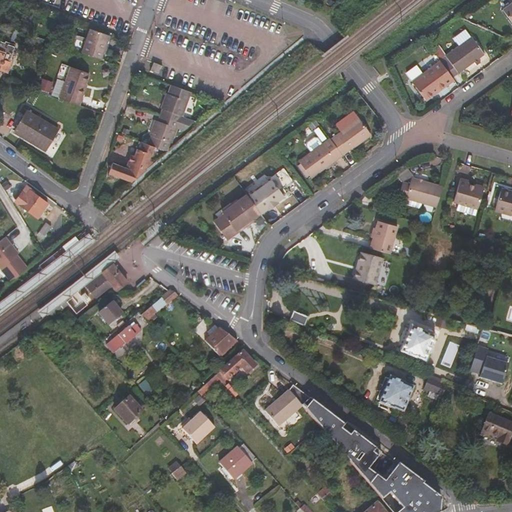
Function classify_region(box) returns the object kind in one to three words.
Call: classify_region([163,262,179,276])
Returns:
vehicle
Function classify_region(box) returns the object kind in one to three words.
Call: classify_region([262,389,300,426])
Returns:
house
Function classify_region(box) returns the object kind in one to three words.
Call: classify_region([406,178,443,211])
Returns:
house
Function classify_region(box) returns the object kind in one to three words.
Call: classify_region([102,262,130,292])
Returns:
building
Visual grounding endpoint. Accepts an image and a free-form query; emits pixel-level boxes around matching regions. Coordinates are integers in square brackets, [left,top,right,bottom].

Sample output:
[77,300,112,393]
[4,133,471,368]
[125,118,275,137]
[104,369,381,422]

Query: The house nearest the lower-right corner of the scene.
[478,411,512,445]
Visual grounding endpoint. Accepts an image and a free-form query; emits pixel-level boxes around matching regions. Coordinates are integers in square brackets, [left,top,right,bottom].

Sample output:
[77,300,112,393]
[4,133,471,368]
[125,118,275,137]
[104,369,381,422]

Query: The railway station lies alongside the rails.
[0,236,132,348]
